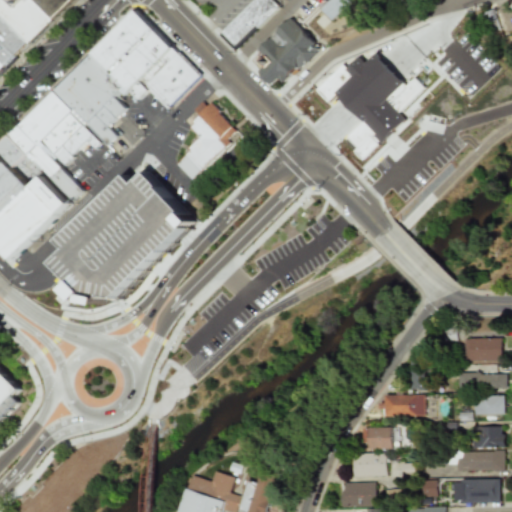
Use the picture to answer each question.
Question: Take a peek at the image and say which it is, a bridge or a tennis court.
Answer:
bridge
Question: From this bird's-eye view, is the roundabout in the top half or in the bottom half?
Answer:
bottom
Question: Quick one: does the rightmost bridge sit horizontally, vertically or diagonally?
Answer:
diagonally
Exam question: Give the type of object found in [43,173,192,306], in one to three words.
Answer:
building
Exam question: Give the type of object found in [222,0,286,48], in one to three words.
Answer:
building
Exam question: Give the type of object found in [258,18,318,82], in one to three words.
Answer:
house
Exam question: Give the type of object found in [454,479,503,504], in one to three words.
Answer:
house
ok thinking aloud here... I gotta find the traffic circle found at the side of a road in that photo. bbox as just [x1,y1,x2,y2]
[0,277,180,457]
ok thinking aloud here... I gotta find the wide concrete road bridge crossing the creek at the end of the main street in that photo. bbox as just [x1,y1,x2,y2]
[366,218,462,304]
